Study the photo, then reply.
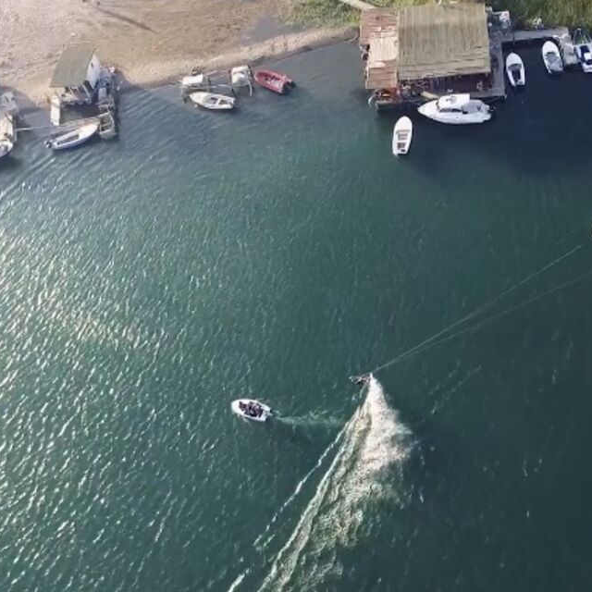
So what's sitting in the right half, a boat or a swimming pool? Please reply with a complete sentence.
The feature located in the right half is a boat.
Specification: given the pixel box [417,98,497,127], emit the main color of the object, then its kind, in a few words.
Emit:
white boat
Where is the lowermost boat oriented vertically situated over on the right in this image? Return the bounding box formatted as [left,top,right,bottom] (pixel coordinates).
[391,114,412,160]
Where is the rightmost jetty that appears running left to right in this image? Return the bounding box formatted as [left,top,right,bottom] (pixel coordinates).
[501,27,568,43]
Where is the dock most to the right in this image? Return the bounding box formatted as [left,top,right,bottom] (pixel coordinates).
[554,33,578,66]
